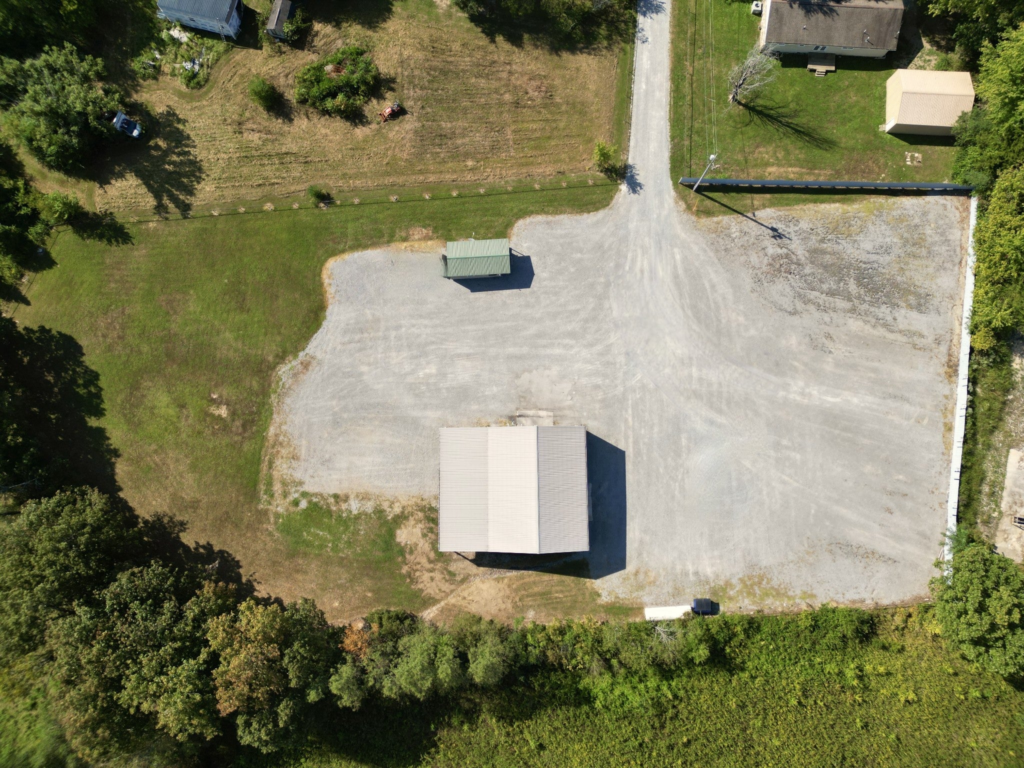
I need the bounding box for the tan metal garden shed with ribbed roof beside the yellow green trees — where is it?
[885,69,974,136]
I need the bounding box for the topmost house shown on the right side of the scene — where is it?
[760,0,904,58]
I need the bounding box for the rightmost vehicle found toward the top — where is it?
[376,99,399,123]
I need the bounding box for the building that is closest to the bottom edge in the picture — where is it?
[437,426,589,555]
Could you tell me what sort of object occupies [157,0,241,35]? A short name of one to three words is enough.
building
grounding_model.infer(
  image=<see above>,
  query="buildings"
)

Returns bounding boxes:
[269,0,300,39]
[437,426,589,555]
[446,238,510,278]
[760,0,904,58]
[157,0,241,35]
[885,69,974,136]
